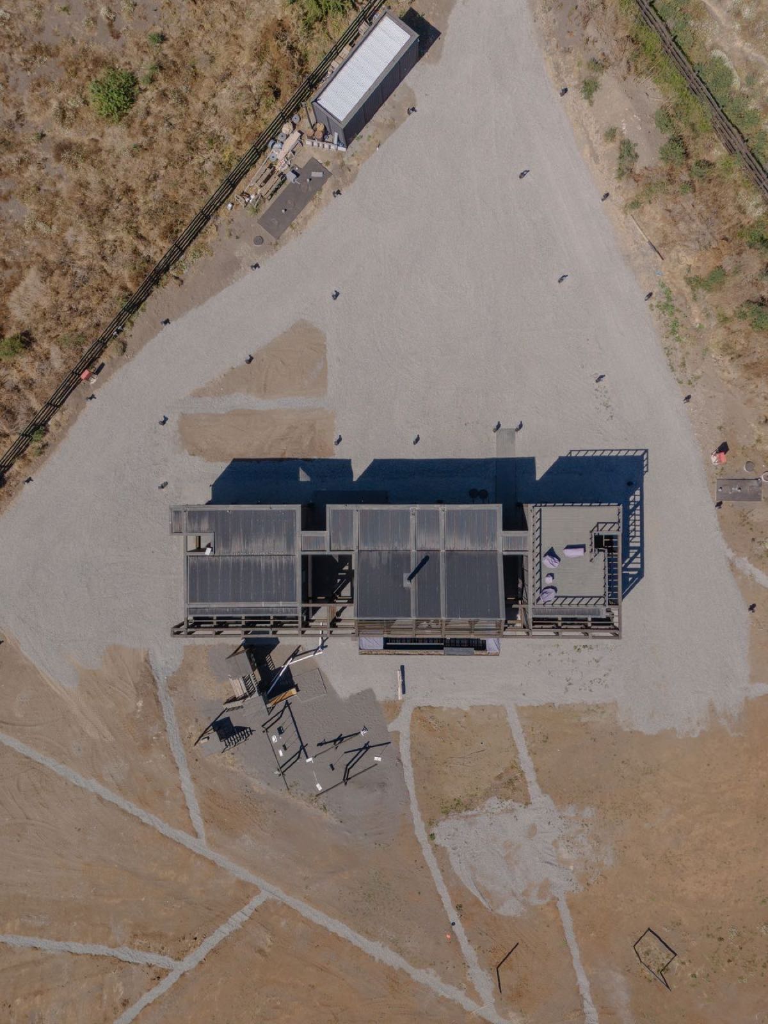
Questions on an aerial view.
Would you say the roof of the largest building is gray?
Yes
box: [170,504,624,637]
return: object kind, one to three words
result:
building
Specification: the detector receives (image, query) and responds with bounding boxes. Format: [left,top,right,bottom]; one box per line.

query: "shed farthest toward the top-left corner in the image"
[310,9,419,147]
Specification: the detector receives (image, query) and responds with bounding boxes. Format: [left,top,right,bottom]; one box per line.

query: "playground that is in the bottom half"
[184,630,411,849]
